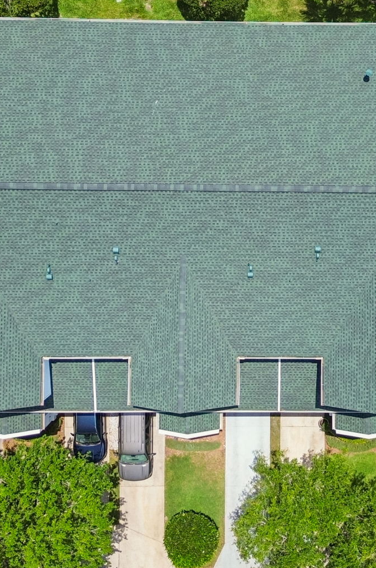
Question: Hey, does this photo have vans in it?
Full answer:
Yes, this view includes a van.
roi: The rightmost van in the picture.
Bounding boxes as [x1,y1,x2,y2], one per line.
[114,414,155,480]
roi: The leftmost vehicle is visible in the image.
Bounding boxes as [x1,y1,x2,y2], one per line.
[65,414,105,463]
